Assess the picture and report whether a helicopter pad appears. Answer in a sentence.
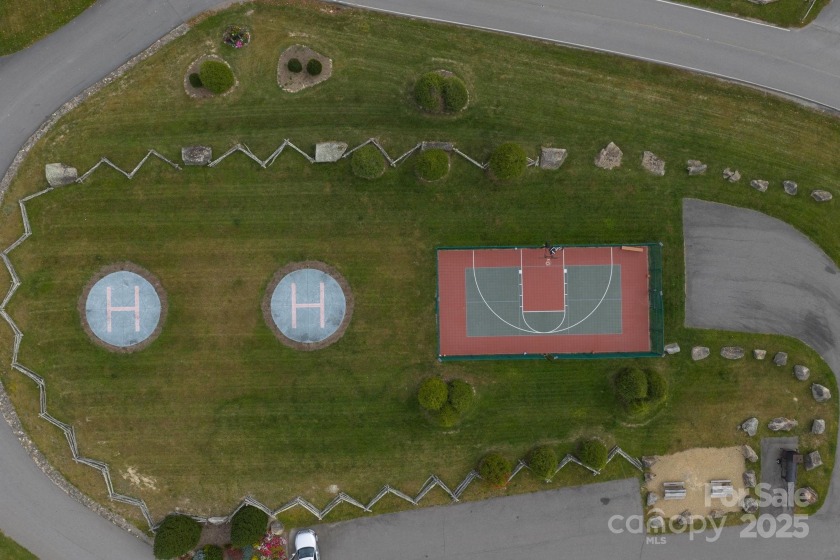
Yes, this view includes a helicopter pad.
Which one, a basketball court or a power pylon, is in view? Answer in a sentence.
I can see a basketball court in this picture.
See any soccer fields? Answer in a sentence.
No, the frame has no soccer field in it.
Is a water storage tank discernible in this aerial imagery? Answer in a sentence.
No, I can't see a single water storage tank in this photo.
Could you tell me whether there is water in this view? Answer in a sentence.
No, there is no water in the image.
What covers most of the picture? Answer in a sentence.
For the most part, this view shows grass.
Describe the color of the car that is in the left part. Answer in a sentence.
The car that is in the left part looks white in the image.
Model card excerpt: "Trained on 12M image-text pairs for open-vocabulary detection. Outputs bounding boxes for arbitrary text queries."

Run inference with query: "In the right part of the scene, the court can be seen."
[439,245,651,356]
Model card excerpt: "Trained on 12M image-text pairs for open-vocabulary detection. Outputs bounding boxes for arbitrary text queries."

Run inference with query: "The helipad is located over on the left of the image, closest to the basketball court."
[262,262,354,351]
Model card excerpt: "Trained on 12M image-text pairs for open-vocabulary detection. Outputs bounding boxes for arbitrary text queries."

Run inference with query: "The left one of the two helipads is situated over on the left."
[78,264,168,353]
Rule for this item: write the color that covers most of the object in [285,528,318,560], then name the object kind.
white car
